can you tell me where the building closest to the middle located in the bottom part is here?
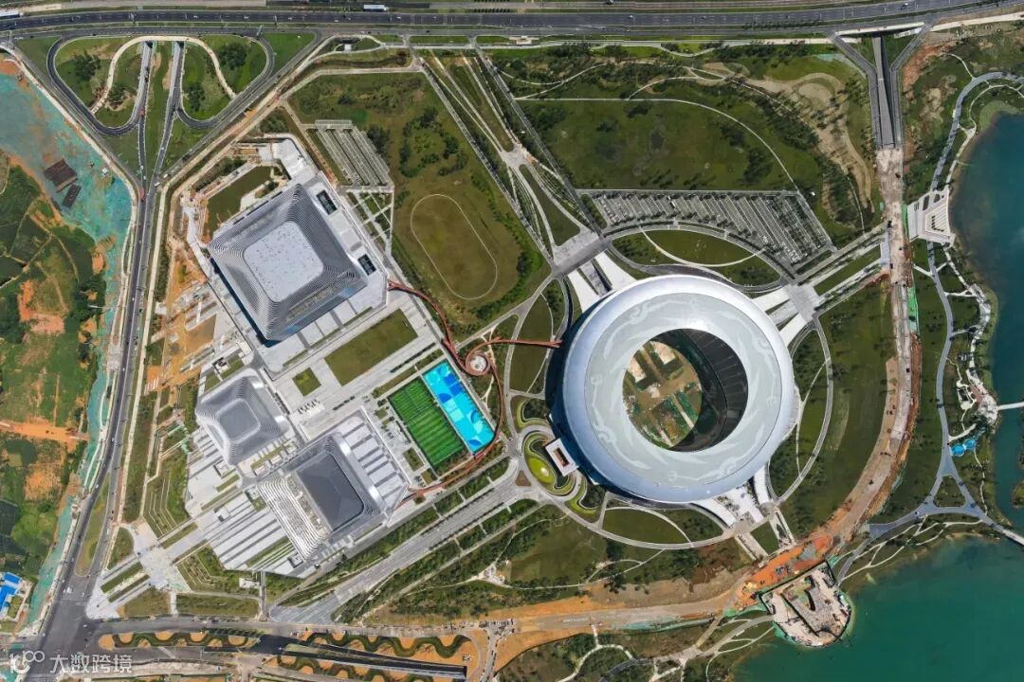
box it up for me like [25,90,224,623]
[545,438,578,476]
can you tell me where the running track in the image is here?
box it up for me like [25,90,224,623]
[409,193,497,300]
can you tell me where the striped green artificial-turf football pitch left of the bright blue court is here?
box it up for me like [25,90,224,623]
[385,374,467,471]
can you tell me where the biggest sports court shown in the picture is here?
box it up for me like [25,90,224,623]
[423,362,496,454]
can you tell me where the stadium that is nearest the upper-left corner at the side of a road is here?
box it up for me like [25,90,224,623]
[207,139,388,381]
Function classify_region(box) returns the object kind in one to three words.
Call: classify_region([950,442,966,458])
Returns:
swimming pool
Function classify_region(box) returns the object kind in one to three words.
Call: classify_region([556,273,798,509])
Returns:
stadium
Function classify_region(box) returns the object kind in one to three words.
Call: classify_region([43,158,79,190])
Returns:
house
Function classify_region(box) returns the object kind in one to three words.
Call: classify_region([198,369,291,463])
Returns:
building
